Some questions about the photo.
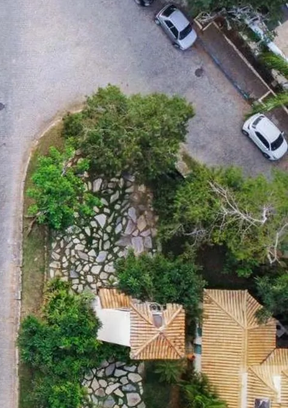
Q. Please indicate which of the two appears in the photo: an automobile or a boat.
automobile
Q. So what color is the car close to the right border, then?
white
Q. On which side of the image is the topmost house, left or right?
right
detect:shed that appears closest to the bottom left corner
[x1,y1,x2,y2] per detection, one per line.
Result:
[81,289,188,360]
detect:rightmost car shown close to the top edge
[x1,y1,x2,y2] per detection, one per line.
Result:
[152,1,197,52]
